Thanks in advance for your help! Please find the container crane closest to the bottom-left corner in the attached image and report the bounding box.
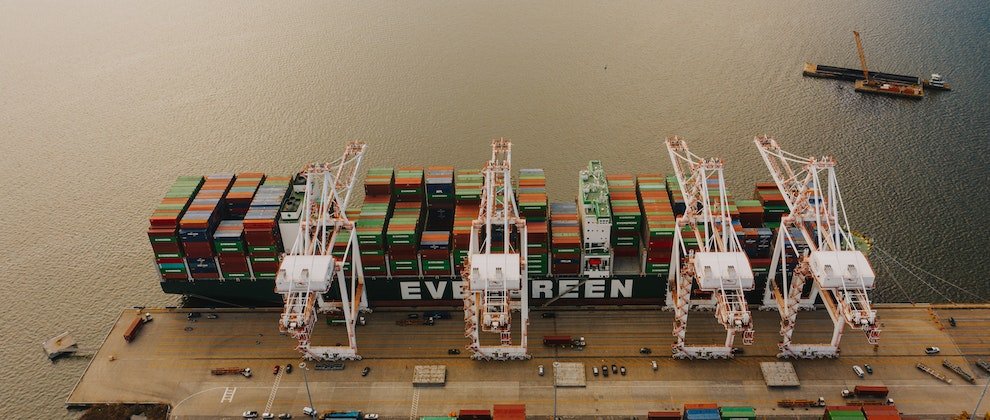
[269,137,368,363]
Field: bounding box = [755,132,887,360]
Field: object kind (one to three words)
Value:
container crane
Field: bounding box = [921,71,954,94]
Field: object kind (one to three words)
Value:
boat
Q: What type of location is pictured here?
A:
port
